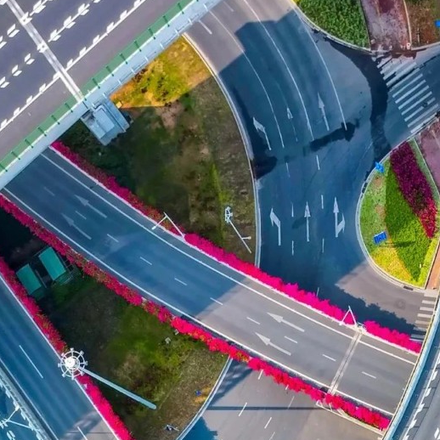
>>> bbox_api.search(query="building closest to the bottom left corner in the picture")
[18,263,47,298]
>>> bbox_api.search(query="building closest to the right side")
[38,245,72,284]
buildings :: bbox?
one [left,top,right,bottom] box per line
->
[18,263,47,298]
[38,245,72,284]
